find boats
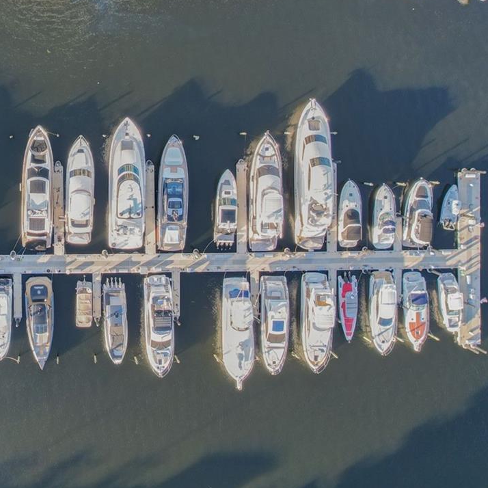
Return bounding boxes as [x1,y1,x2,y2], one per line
[288,98,333,256]
[438,179,470,236]
[333,179,369,256]
[398,271,429,351]
[292,271,340,375]
[96,272,136,365]
[246,130,286,254]
[208,138,243,252]
[152,133,192,254]
[253,271,294,376]
[16,124,54,255]
[140,272,176,379]
[59,135,100,254]
[59,271,95,359]
[0,277,18,360]
[368,183,399,248]
[333,271,365,351]
[106,116,145,255]
[400,177,436,253]
[434,271,466,336]
[25,271,56,369]
[217,271,273,390]
[365,270,398,358]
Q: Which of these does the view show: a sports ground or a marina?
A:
marina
